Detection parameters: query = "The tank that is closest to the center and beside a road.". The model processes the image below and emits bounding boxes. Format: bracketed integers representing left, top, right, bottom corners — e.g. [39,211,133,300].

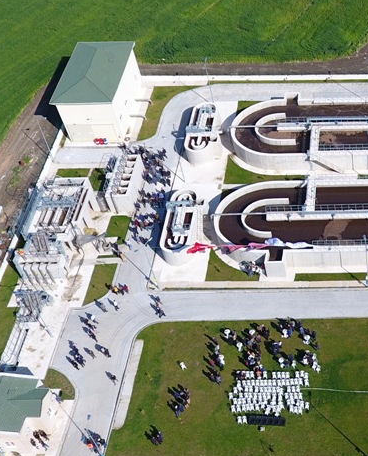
[158,188,218,263]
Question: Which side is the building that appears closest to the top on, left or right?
left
